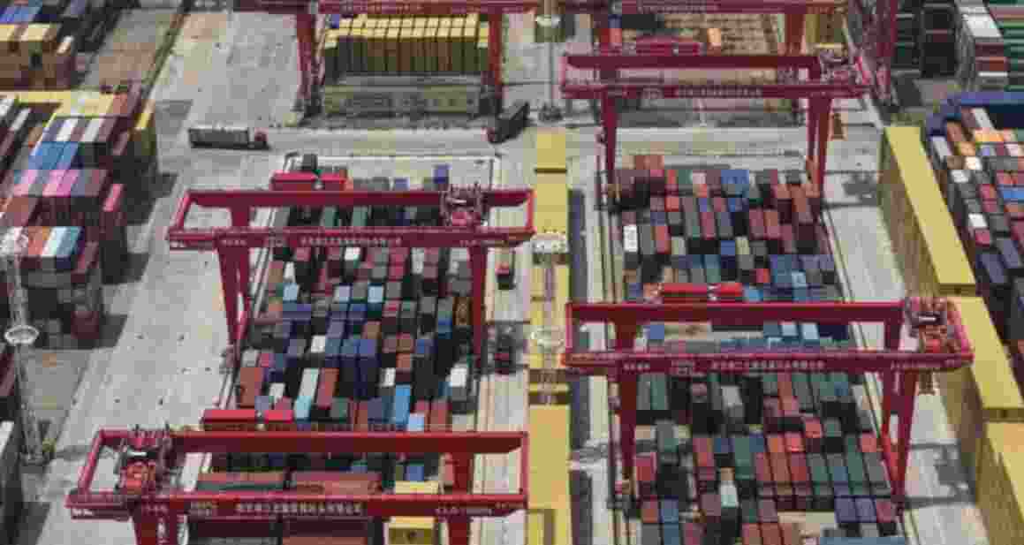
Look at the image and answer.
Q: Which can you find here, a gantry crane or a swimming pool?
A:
gantry crane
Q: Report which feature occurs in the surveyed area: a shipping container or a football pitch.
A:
shipping container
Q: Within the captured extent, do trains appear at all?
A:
No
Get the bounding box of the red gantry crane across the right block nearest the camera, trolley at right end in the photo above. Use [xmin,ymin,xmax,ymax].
[562,277,974,513]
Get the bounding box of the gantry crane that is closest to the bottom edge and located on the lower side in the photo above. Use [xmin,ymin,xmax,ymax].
[62,404,528,545]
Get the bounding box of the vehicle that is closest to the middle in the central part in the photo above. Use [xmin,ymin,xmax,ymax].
[499,254,514,288]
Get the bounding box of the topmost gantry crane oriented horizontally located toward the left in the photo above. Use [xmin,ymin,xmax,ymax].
[256,0,538,114]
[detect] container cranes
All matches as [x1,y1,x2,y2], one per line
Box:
[560,0,841,112]
[167,162,534,371]
[858,0,1024,104]
[256,0,538,114]
[560,35,875,214]
[62,404,528,545]
[562,277,974,513]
